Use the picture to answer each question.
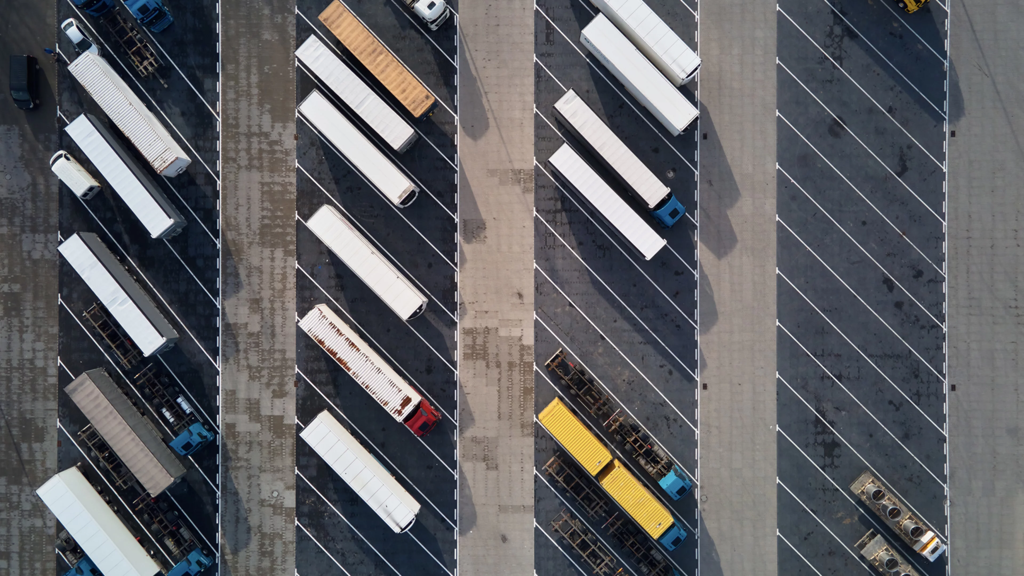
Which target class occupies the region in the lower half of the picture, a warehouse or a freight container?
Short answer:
freight container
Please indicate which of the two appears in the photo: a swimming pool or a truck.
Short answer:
truck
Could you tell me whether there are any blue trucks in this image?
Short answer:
Yes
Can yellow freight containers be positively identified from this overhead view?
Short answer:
Yes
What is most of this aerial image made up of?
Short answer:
paved ground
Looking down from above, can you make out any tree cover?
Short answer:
No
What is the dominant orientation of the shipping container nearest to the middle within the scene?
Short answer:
on a diagonal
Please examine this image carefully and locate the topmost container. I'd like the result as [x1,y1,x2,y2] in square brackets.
[539,398,613,475]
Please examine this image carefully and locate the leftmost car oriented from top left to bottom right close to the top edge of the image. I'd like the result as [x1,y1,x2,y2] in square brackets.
[62,16,104,57]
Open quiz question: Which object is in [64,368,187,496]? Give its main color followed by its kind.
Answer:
gray trailer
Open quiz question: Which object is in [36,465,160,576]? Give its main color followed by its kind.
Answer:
white trailer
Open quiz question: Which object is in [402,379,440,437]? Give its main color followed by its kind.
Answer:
red truck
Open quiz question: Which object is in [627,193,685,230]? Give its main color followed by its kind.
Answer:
blue truck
